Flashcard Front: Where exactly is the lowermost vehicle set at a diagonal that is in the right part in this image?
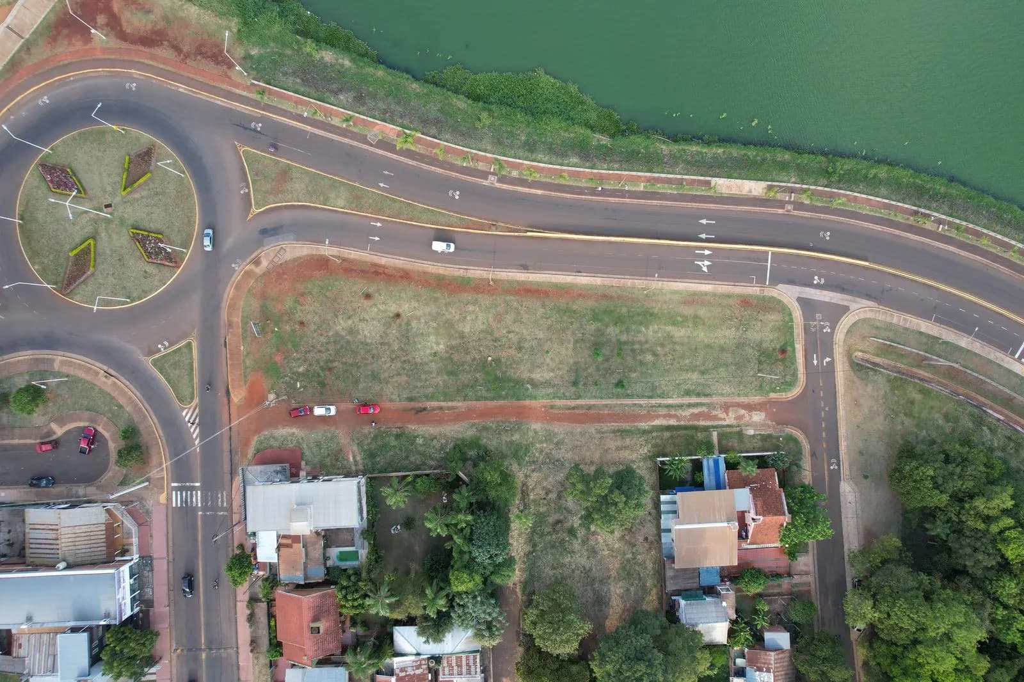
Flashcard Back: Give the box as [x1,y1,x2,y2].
[850,621,869,643]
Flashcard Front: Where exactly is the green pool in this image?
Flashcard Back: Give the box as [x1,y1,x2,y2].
[335,549,360,563]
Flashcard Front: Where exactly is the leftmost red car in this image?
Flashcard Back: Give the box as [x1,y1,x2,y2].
[32,440,58,453]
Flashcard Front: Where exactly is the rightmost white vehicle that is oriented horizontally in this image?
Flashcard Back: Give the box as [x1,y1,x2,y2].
[430,240,456,252]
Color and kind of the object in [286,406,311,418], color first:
red vehicle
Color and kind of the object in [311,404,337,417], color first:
white vehicle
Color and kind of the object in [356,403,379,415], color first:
red vehicle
